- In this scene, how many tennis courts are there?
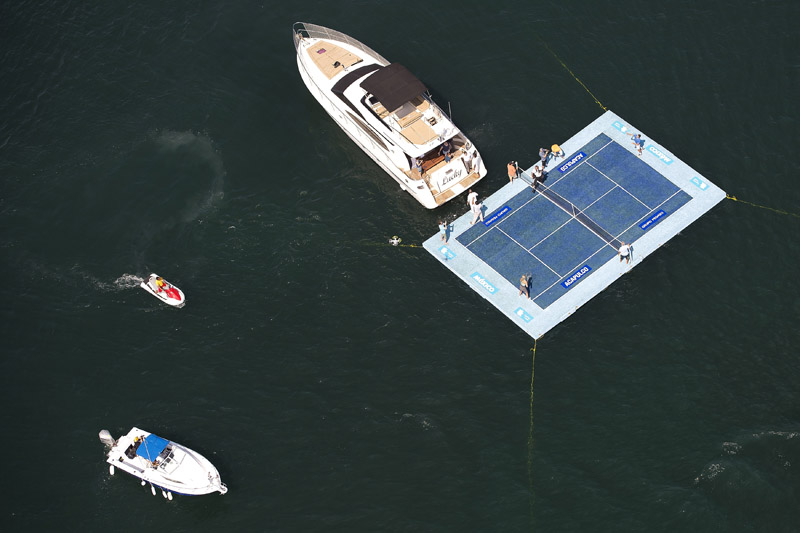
1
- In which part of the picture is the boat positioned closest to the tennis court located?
top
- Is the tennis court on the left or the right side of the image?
right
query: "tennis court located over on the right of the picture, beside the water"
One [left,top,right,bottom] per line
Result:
[423,110,727,339]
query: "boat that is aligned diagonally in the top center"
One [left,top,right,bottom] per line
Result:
[290,23,488,210]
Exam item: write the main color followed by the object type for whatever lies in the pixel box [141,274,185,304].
white boat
